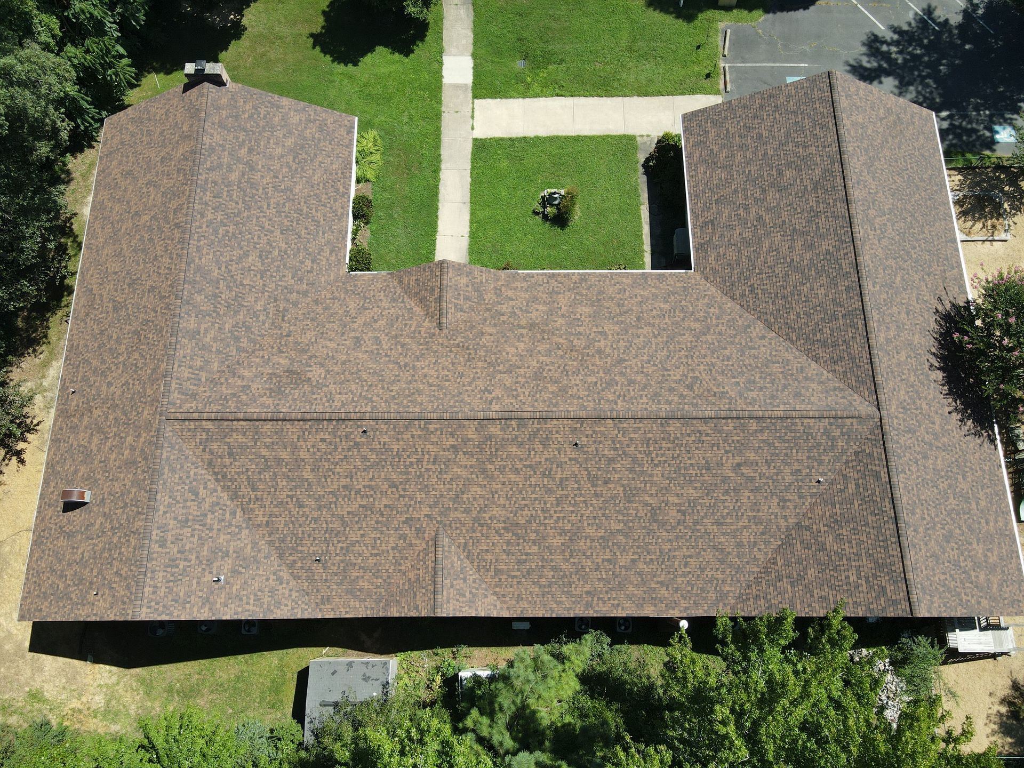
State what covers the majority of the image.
buildings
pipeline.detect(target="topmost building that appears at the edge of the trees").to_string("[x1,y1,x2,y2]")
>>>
[15,58,1024,620]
